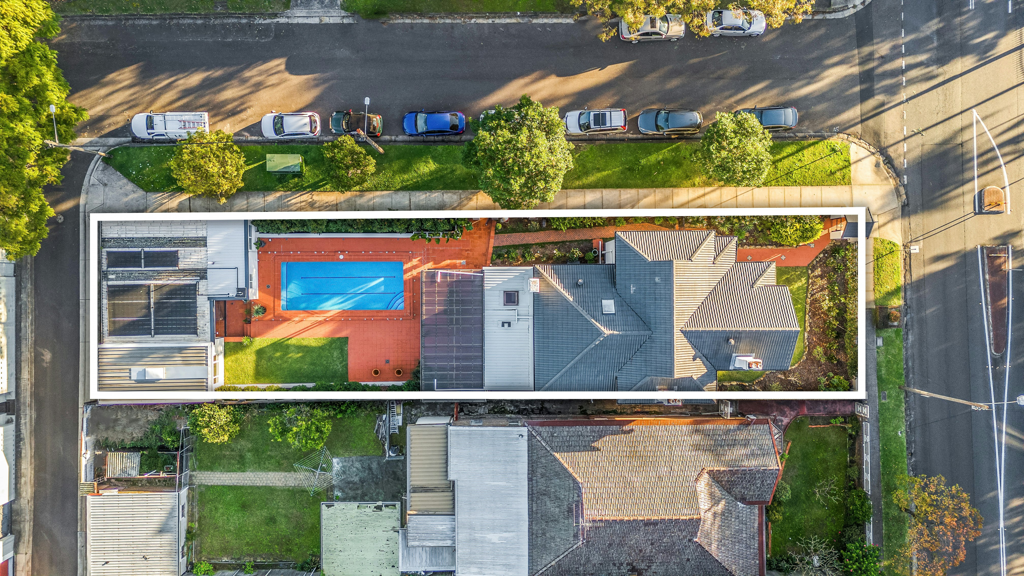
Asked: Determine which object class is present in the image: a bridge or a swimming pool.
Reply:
swimming pool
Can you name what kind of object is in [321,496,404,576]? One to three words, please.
shed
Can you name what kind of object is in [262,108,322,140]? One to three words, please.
car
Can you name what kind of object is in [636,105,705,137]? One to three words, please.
car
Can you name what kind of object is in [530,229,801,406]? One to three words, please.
house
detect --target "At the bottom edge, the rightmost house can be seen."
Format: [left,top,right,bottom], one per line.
[525,419,783,576]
